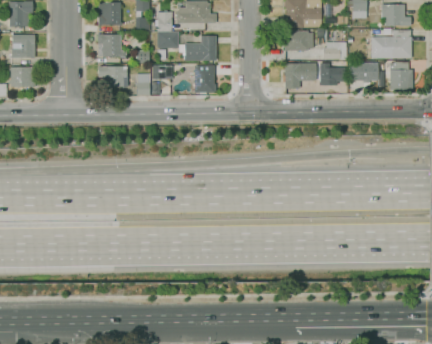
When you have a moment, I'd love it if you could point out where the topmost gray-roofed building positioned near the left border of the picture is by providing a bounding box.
[10,0,34,26]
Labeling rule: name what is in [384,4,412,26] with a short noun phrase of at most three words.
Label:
house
